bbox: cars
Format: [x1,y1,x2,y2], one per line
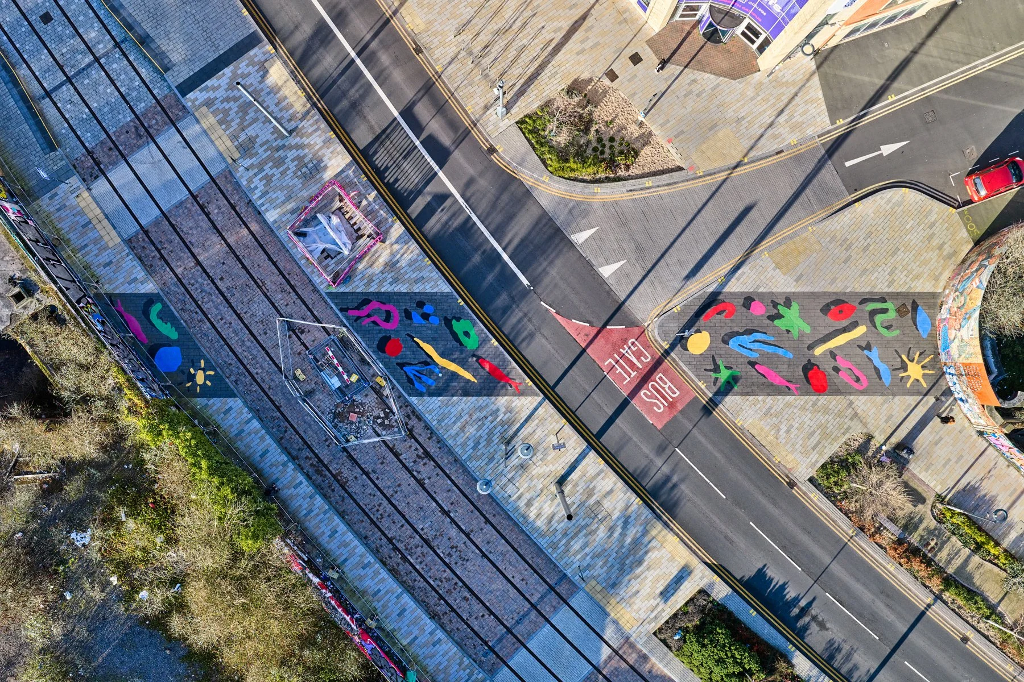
[969,152,1024,201]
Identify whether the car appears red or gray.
red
